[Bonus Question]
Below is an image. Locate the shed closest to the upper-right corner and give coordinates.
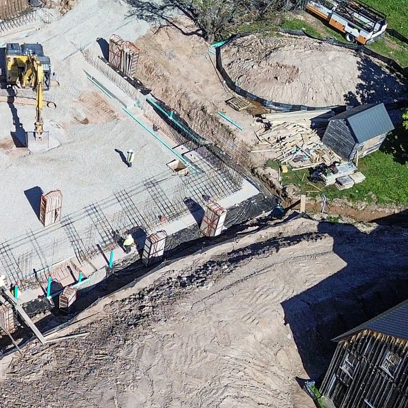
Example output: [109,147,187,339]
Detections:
[321,105,398,170]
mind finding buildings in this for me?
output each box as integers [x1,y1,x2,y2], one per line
[320,296,408,408]
[321,105,398,170]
